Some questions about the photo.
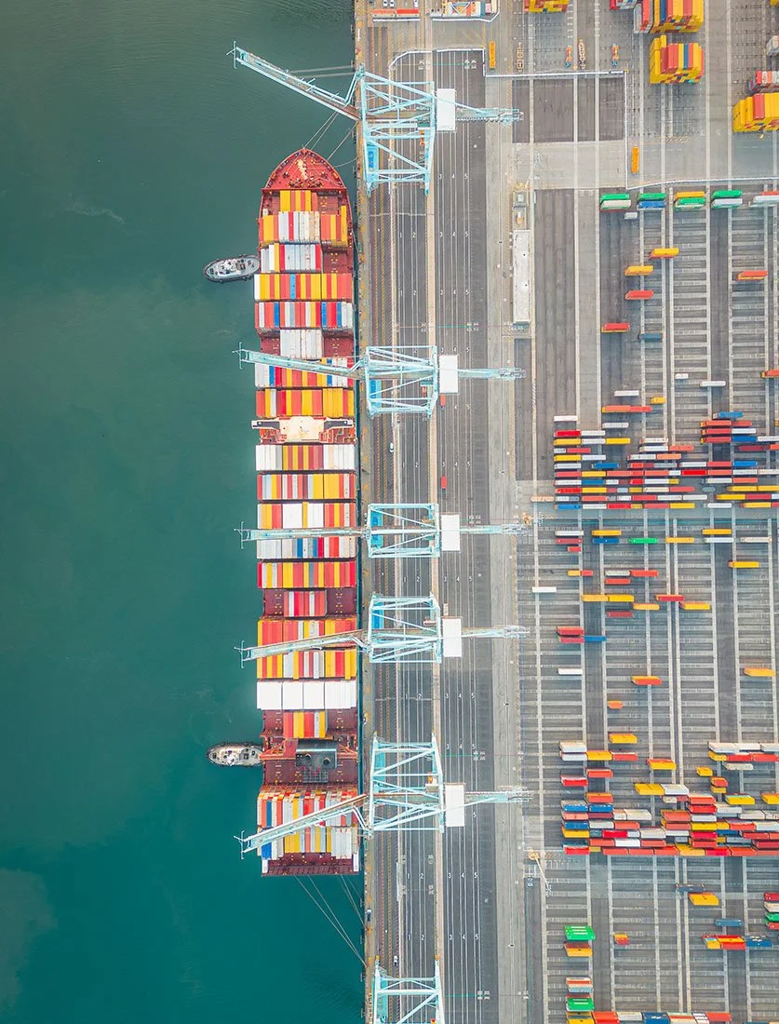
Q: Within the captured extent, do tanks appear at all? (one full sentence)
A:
No, I can't see a single tank in this photo.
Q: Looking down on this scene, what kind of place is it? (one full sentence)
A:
The area seen from above is a port.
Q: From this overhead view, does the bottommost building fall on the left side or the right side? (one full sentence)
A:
You can find the bottommost building on the right side of the picture.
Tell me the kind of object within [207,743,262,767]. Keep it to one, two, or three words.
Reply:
boat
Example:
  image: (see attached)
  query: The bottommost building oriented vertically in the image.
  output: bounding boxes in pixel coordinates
[506,228,531,329]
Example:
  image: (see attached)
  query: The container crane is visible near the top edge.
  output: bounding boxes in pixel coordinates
[227,37,521,194]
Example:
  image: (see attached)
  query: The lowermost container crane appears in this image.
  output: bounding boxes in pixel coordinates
[371,960,445,1024]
